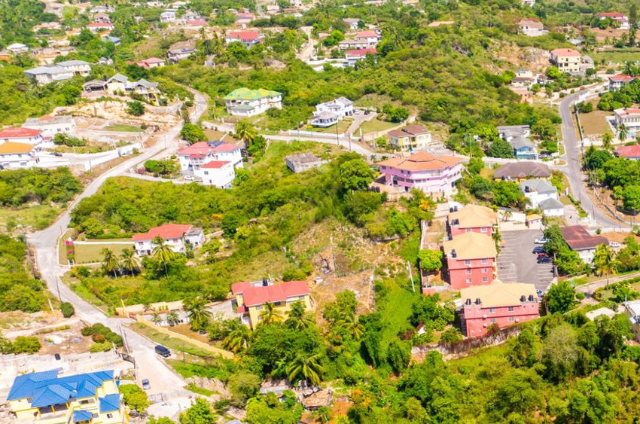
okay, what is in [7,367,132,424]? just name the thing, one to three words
house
